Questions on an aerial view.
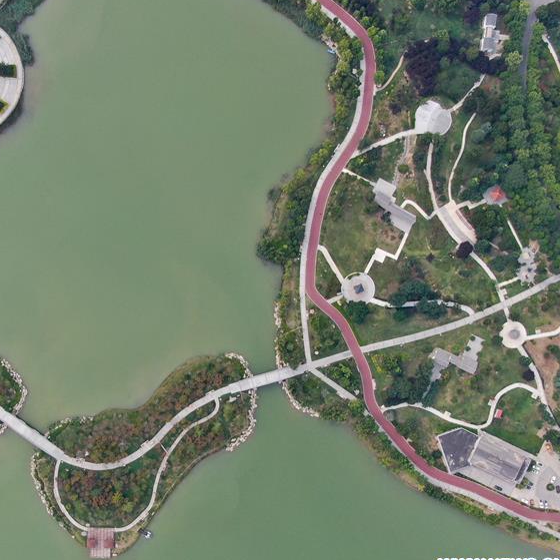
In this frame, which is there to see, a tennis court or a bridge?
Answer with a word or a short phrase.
bridge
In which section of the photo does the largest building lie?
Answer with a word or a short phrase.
bottom right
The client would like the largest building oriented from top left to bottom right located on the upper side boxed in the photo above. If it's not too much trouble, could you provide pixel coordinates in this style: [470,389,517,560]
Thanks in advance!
[373,177,415,233]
